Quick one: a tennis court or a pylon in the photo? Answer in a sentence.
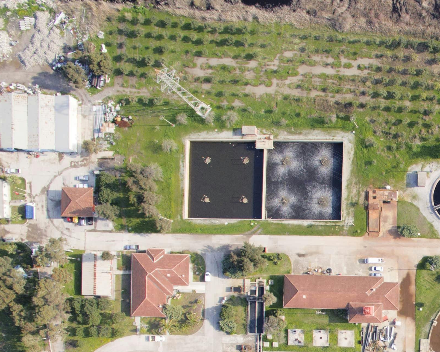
The image shows a pylon.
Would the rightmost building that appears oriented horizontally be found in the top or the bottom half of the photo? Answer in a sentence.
Seen from above, the rightmost building that appears oriented horizontally lies in the bottom half of the view.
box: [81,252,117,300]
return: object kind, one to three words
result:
building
